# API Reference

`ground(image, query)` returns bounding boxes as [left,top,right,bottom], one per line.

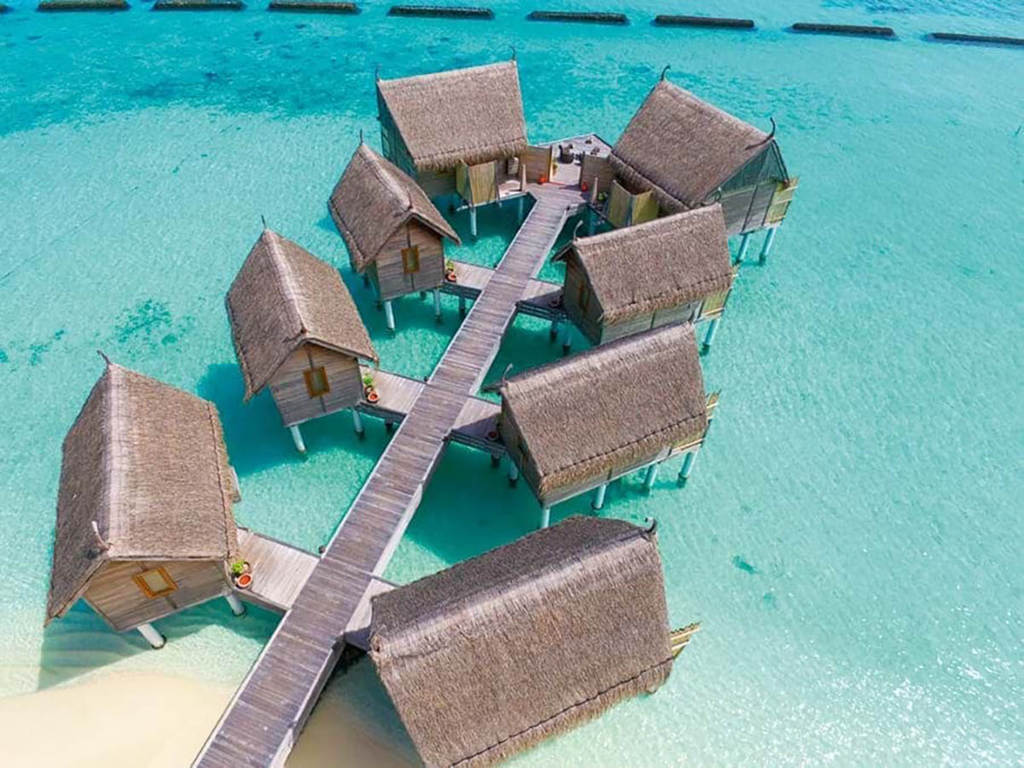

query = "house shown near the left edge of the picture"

[39,347,246,650]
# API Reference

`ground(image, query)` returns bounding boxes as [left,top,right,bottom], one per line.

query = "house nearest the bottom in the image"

[368,515,688,768]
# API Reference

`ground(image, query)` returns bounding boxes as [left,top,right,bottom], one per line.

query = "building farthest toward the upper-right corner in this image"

[607,64,794,260]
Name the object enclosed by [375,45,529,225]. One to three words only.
house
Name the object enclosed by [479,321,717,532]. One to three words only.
house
